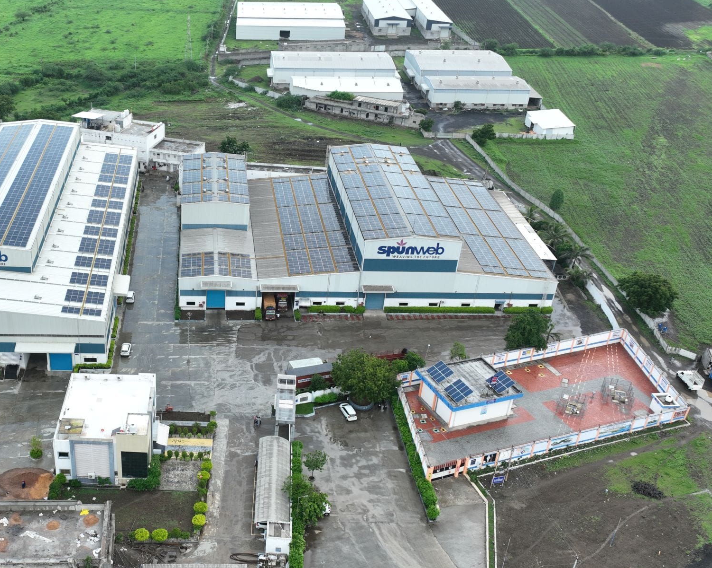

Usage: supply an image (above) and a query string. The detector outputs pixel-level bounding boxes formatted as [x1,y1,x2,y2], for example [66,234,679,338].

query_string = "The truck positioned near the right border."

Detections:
[682,371,709,393]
